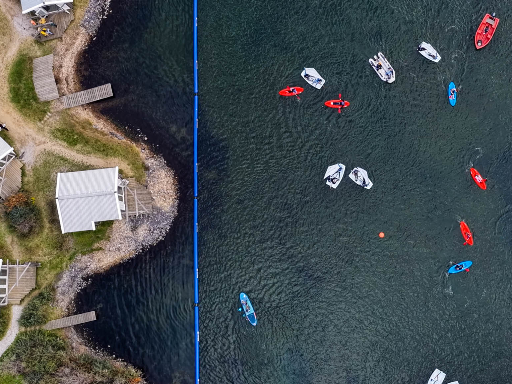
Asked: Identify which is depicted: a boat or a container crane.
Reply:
boat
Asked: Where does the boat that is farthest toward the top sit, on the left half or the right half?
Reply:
right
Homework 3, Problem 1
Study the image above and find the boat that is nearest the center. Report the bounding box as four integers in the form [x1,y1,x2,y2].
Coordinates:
[324,164,345,188]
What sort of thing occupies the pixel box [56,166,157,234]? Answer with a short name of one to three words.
shed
